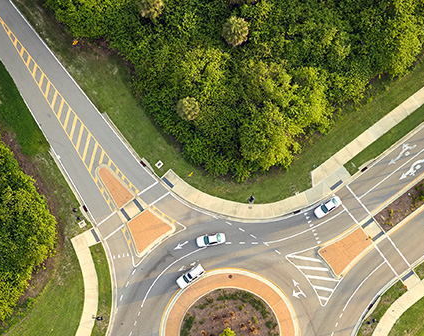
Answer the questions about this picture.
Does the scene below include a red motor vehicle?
No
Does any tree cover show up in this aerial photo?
Yes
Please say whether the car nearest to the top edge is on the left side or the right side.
right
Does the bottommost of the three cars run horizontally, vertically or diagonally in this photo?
diagonally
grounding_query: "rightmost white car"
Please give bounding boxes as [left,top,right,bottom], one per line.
[314,196,343,219]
